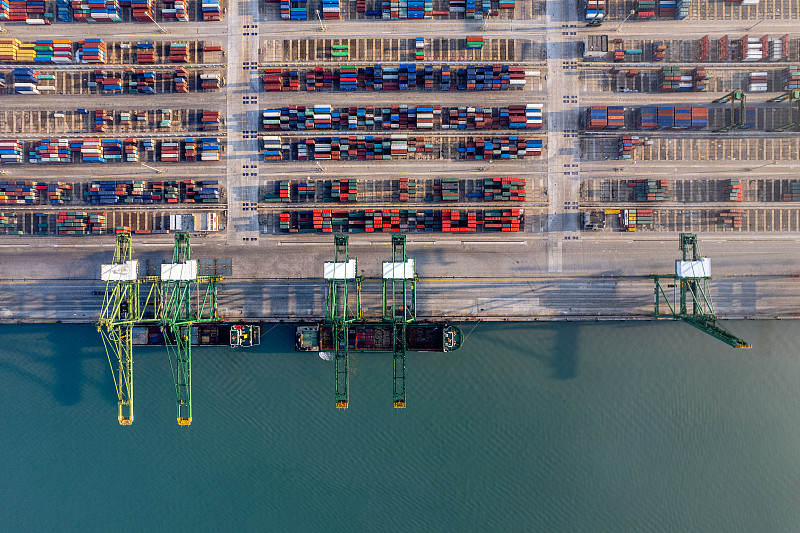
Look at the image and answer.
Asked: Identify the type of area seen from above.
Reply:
port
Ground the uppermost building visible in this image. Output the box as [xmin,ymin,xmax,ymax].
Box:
[582,35,609,58]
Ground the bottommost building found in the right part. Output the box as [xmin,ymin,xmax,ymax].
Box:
[579,209,605,229]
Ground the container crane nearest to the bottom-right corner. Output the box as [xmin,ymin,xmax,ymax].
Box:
[644,235,751,352]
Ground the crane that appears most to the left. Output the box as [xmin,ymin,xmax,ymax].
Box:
[99,238,171,425]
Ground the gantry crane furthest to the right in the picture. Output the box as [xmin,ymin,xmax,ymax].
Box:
[765,91,800,134]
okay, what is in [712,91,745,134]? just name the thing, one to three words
container crane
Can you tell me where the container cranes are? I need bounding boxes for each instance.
[380,237,419,410]
[712,91,745,134]
[99,238,171,425]
[163,237,225,425]
[765,91,800,134]
[644,235,751,352]
[324,237,366,410]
